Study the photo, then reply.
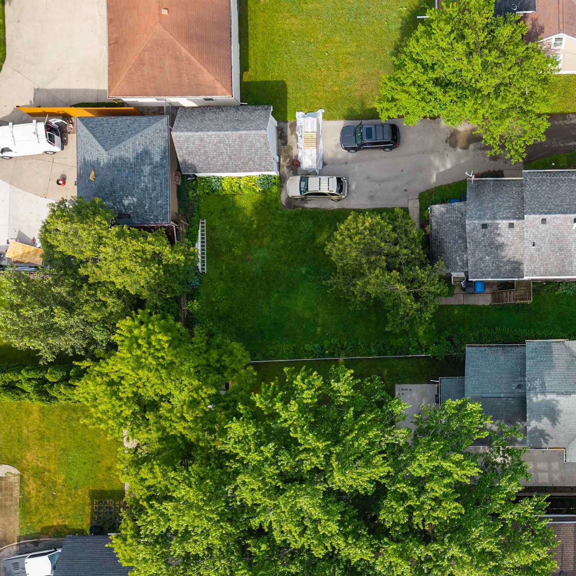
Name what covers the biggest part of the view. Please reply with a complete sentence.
What you mostly see from above here is trees.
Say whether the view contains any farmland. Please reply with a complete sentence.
No, the scene doesn't show any farmland.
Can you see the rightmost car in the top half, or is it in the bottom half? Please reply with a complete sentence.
The rightmost car sits in the top half of the picture.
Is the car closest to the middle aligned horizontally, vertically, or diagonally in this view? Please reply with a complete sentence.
In this picture, the car closest to the middle lies horizontally.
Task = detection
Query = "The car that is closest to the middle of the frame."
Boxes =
[287,174,350,203]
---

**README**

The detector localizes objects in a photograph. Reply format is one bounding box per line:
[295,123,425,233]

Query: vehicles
[287,174,350,203]
[340,123,401,153]
[0,118,74,160]
[3,546,62,576]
